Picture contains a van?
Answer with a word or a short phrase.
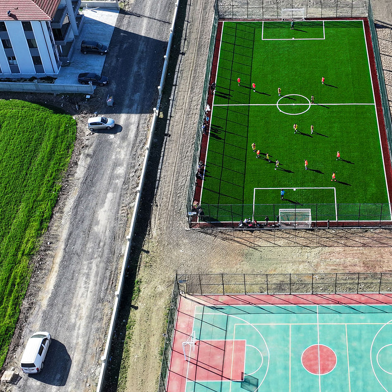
Yes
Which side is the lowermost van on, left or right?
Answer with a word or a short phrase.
left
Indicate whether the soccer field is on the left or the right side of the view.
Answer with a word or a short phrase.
right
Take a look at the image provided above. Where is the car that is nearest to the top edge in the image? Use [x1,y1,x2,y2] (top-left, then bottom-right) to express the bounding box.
[81,38,110,53]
